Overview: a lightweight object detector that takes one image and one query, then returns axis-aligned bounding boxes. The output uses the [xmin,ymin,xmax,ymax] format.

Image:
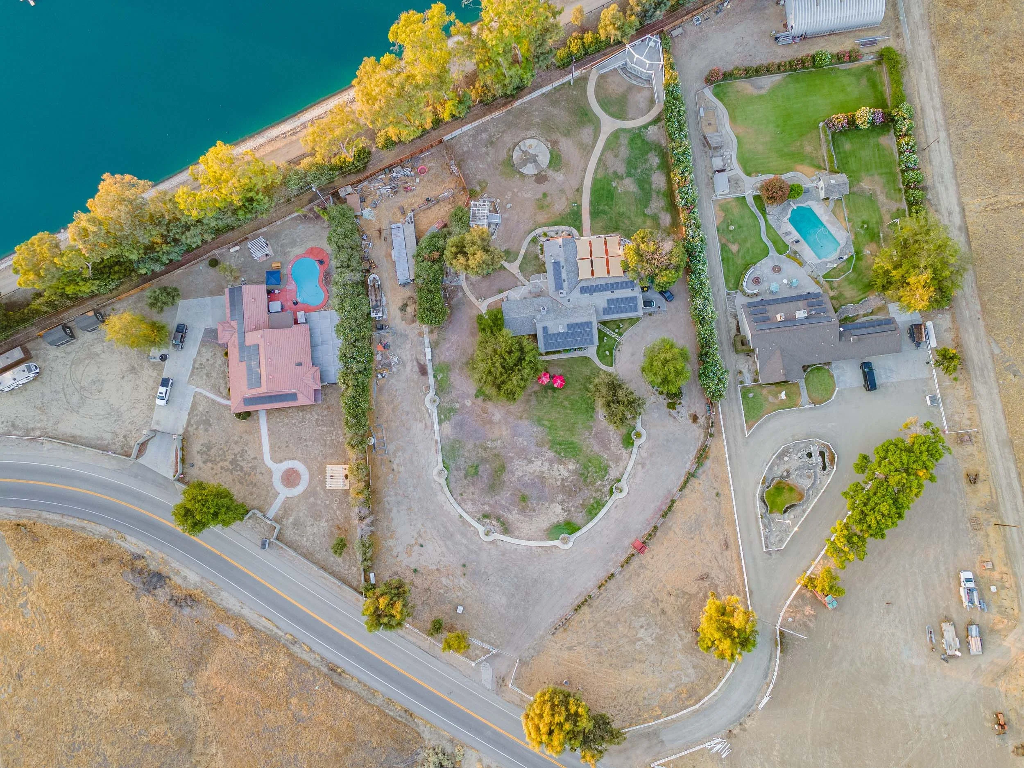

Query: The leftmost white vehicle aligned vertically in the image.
[157,377,174,407]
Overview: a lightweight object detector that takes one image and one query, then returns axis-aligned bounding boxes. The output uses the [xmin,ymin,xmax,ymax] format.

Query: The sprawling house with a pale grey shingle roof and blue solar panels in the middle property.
[502,235,642,352]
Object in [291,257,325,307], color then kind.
blue swimming pool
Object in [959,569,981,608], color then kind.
white truck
